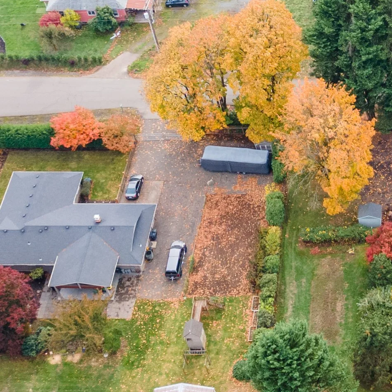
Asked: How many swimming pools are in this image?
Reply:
0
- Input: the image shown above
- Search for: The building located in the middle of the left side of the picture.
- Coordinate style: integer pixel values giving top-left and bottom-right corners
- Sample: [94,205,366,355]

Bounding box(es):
[0,168,158,298]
